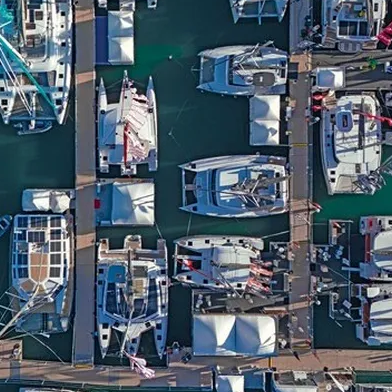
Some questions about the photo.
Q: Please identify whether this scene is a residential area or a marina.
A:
marina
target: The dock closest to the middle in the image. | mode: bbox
[95,182,157,227]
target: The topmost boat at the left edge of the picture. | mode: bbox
[0,0,78,126]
